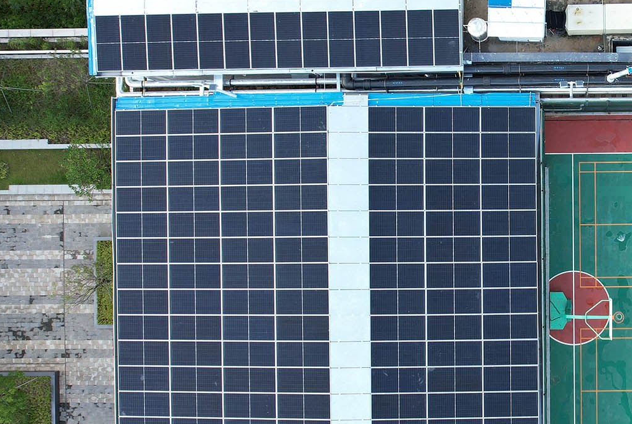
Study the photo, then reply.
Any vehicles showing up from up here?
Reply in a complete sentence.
No, the picture doesn't show any vehicle.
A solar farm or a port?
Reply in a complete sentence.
What you see here is a solar farm.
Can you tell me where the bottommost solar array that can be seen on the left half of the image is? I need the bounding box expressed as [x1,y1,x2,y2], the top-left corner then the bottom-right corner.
[116,107,331,424]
